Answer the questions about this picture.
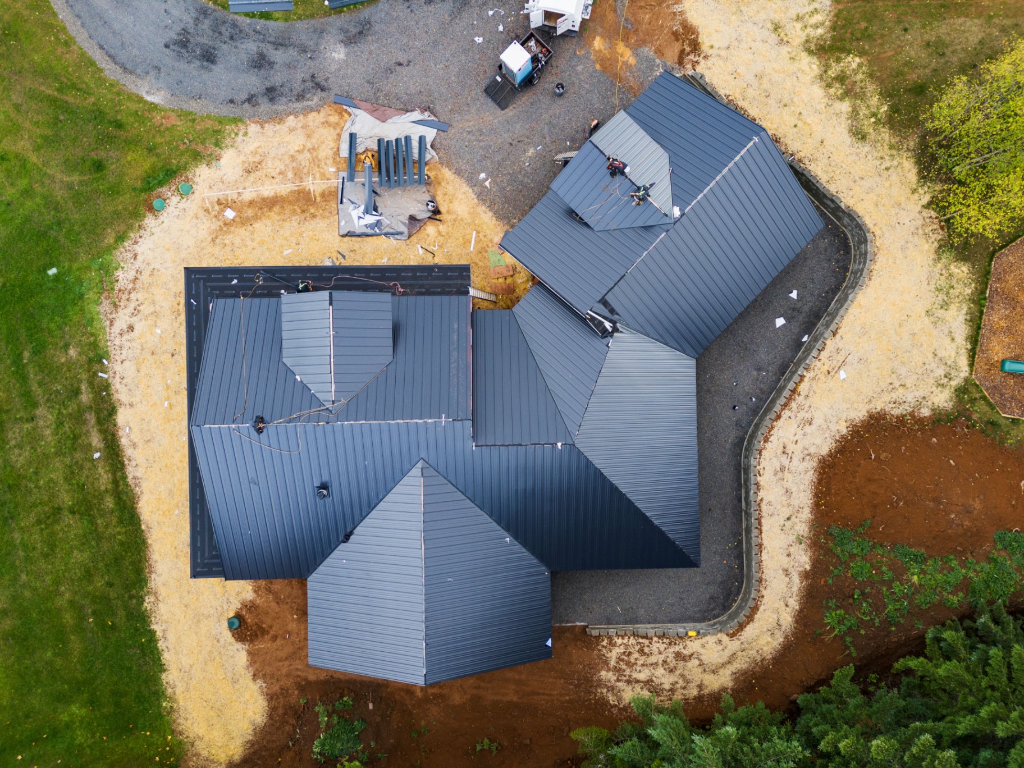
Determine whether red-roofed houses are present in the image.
No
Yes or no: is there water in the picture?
No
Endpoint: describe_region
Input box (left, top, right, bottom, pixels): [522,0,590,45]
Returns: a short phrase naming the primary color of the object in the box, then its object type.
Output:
white truck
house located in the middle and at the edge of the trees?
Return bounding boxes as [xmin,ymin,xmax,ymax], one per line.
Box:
[184,67,826,687]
